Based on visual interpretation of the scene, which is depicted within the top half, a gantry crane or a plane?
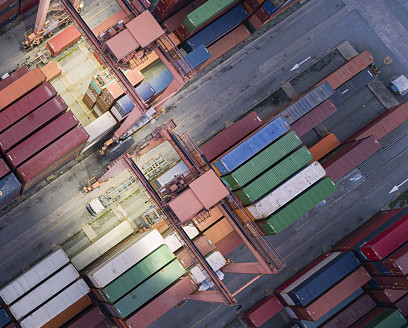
gantry crane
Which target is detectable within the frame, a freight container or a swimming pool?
freight container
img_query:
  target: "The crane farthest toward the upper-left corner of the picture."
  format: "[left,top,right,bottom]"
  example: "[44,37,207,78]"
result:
[18,0,203,154]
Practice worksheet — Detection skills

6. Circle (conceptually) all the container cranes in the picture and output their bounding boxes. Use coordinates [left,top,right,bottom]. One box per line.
[79,115,288,315]
[18,0,203,154]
